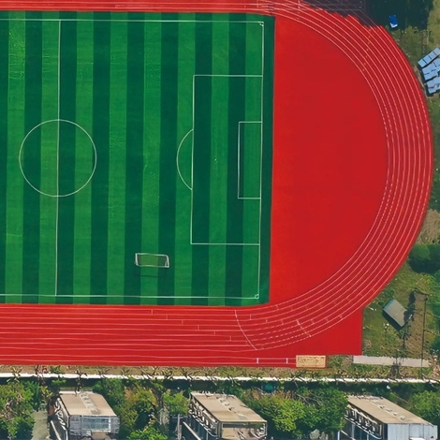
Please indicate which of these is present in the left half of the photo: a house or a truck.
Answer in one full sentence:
The one visible in the left half of the photo is a house.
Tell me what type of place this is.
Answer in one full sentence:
What you see here is a sports ground.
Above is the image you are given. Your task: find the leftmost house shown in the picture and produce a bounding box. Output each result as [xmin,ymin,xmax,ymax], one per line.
[53,395,119,440]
